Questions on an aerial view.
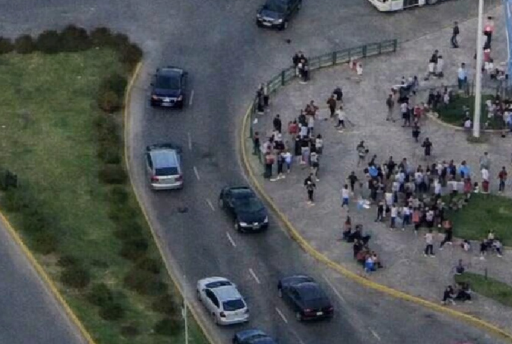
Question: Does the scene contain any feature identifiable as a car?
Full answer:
Yes, there's a car down there.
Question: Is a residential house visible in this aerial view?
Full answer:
No, no residential house is visible in the view.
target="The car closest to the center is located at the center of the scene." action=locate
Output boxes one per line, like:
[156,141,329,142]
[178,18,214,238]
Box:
[215,168,269,226]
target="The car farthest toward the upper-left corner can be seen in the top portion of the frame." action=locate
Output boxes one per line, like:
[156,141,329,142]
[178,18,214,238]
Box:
[153,61,189,102]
